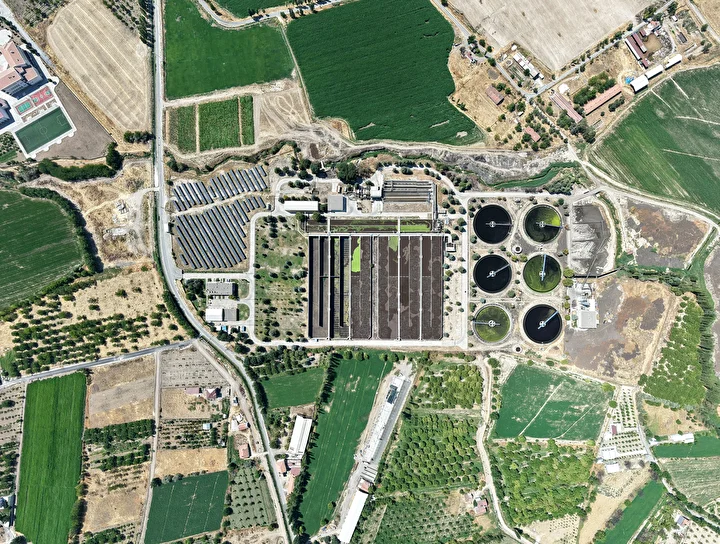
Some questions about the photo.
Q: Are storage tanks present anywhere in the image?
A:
Yes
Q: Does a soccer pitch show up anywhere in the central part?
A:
No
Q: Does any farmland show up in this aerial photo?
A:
Yes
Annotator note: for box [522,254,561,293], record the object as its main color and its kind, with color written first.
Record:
green storage tank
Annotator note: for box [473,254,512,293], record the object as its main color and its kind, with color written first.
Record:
black storage tank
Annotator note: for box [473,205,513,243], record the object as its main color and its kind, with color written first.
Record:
black storage tank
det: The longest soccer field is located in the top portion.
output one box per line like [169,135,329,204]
[15,108,72,153]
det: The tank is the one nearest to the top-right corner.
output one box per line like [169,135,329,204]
[522,205,562,244]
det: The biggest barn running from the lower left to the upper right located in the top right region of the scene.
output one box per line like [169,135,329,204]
[584,84,623,115]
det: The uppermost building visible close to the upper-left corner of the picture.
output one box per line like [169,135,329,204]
[0,40,38,97]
